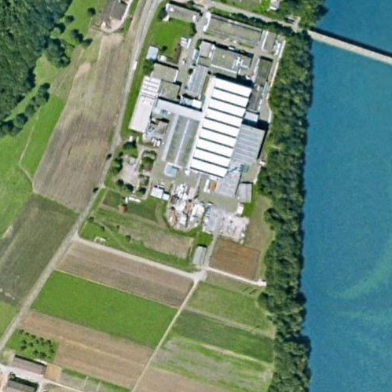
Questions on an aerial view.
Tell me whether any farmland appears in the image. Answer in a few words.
Yes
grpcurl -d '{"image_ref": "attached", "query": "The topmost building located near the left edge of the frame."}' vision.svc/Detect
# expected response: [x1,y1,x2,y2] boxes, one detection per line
[12,354,46,376]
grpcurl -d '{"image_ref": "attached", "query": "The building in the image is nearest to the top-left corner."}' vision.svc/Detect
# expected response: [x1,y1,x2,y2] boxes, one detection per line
[100,0,127,19]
